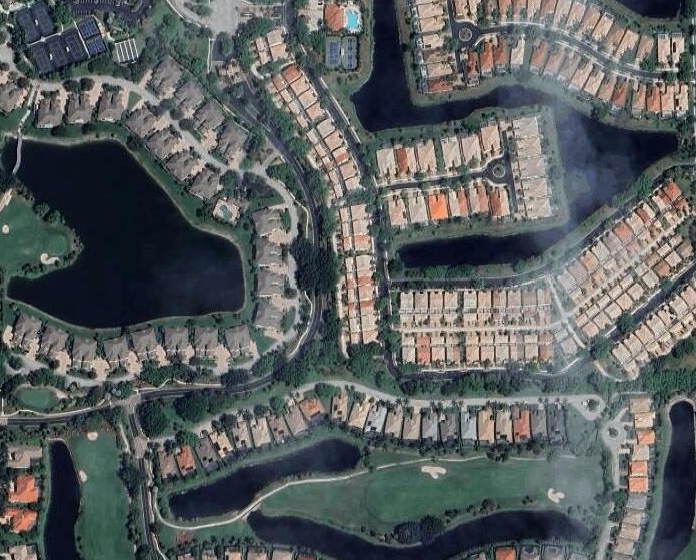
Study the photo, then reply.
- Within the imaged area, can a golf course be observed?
Yes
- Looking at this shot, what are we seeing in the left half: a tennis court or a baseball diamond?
tennis court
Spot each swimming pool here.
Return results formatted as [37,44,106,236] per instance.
[344,4,361,34]
[213,200,239,225]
